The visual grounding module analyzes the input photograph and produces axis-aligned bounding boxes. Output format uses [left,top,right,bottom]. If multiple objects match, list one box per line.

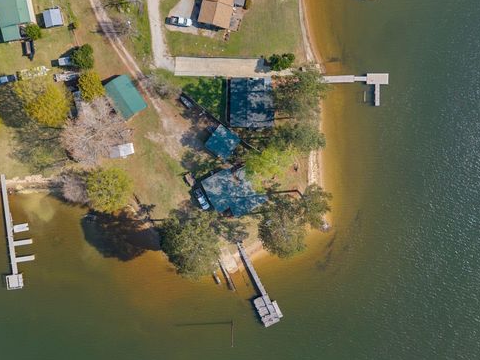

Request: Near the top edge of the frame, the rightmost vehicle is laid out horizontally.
[165,16,194,28]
